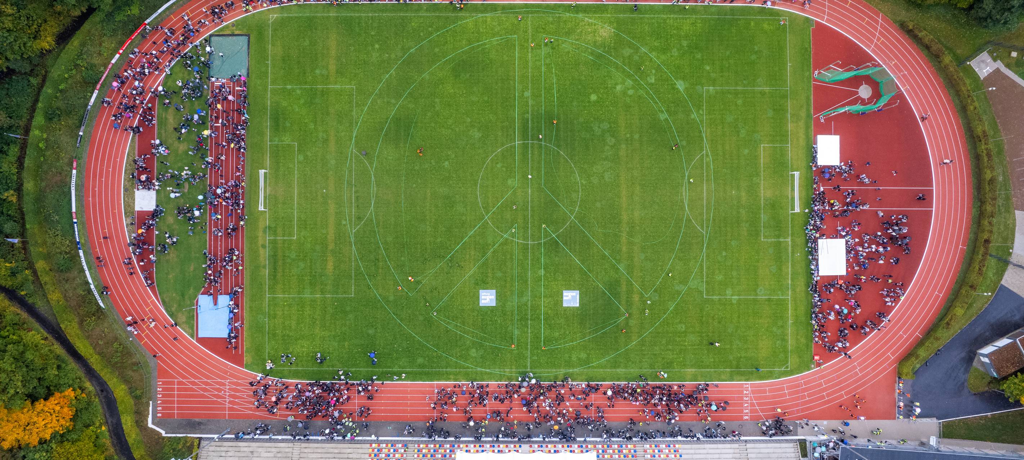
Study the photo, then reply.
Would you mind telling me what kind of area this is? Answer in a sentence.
It's a sports ground.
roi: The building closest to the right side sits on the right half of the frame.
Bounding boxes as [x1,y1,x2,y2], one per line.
[978,330,1024,379]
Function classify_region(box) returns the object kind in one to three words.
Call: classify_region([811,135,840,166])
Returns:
tent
